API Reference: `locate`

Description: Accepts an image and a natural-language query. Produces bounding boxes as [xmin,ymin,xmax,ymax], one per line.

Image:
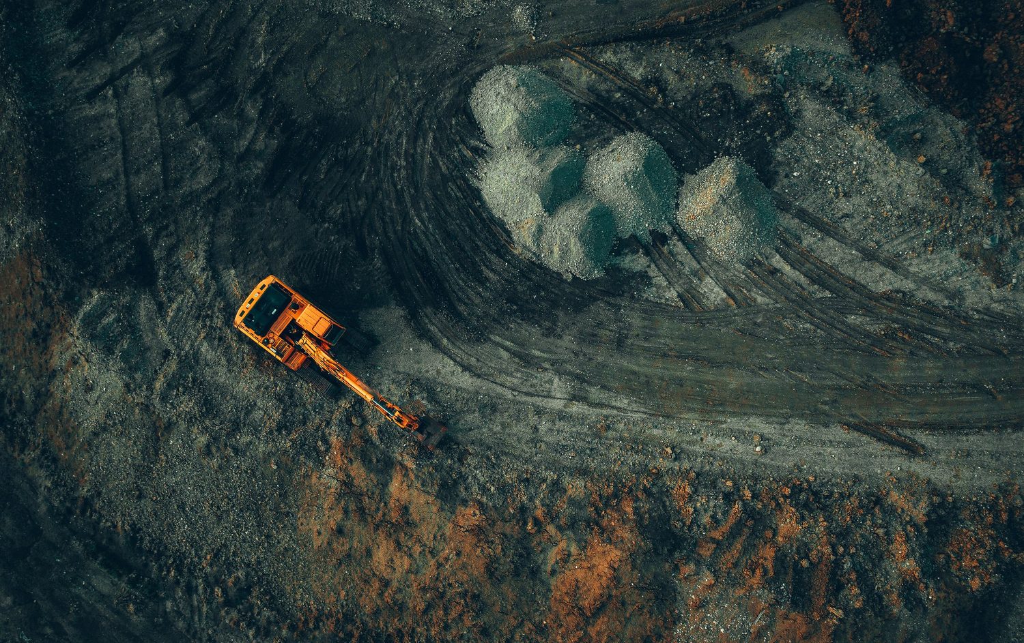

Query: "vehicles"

[237,276,448,452]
